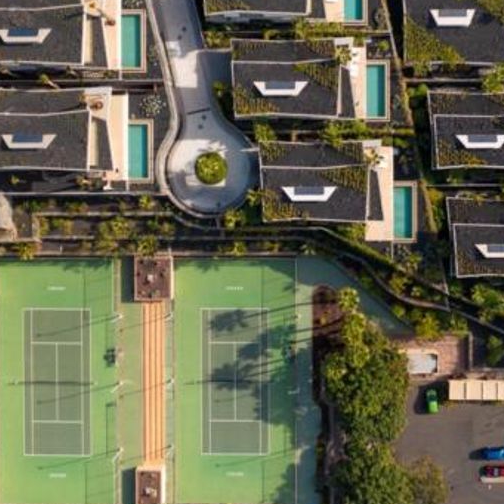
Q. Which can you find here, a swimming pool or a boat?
swimming pool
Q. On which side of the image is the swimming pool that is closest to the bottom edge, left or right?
right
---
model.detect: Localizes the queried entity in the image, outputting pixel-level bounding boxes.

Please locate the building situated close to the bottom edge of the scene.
[135,466,164,504]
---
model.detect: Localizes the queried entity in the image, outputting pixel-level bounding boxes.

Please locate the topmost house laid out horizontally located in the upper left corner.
[0,0,164,78]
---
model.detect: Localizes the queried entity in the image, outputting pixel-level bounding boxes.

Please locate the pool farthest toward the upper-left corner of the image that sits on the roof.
[121,9,146,72]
